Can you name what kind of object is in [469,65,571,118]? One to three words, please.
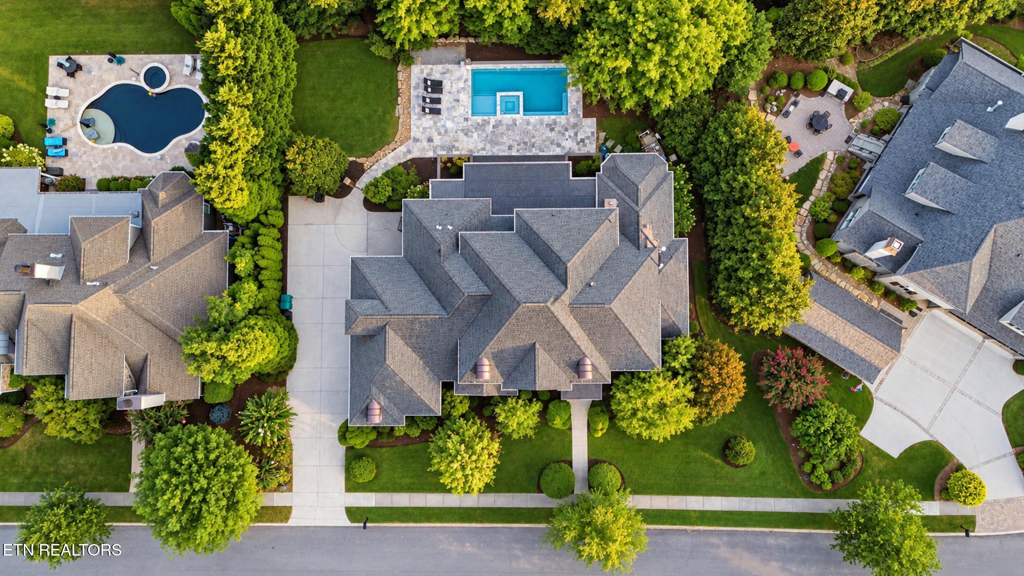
swimming pool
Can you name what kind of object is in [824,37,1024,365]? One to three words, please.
house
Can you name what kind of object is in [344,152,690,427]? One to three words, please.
house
